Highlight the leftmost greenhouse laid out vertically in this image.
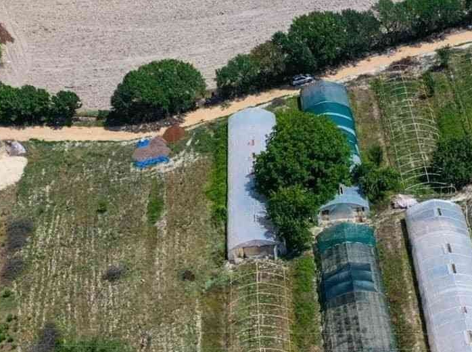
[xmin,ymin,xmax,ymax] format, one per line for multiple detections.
[231,108,292,262]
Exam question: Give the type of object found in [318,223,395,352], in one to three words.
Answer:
greenhouse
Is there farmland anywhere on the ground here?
Yes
